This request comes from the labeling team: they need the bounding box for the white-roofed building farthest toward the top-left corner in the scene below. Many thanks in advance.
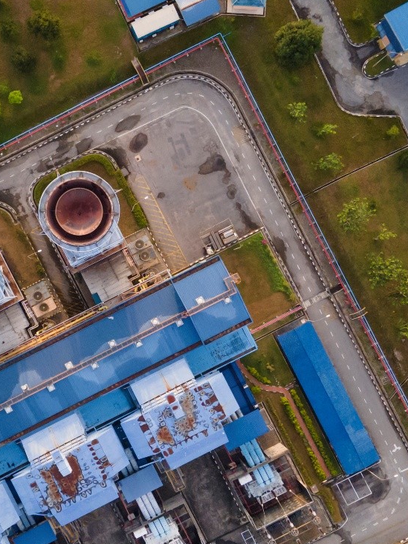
[131,1,180,44]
